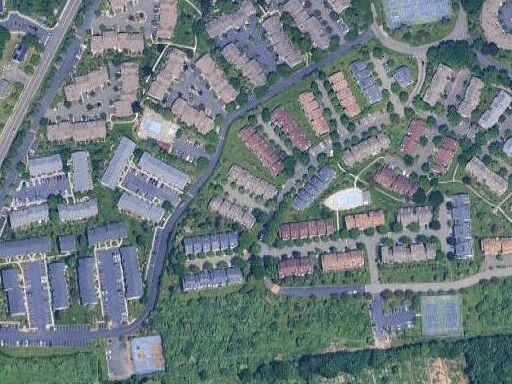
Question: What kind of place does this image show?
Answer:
residential area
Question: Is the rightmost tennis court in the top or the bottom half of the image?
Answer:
bottom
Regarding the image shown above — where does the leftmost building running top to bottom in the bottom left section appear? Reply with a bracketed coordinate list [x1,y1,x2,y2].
[0,268,26,317]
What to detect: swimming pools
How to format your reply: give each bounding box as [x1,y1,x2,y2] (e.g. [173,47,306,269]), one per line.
[139,109,178,145]
[325,188,363,210]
